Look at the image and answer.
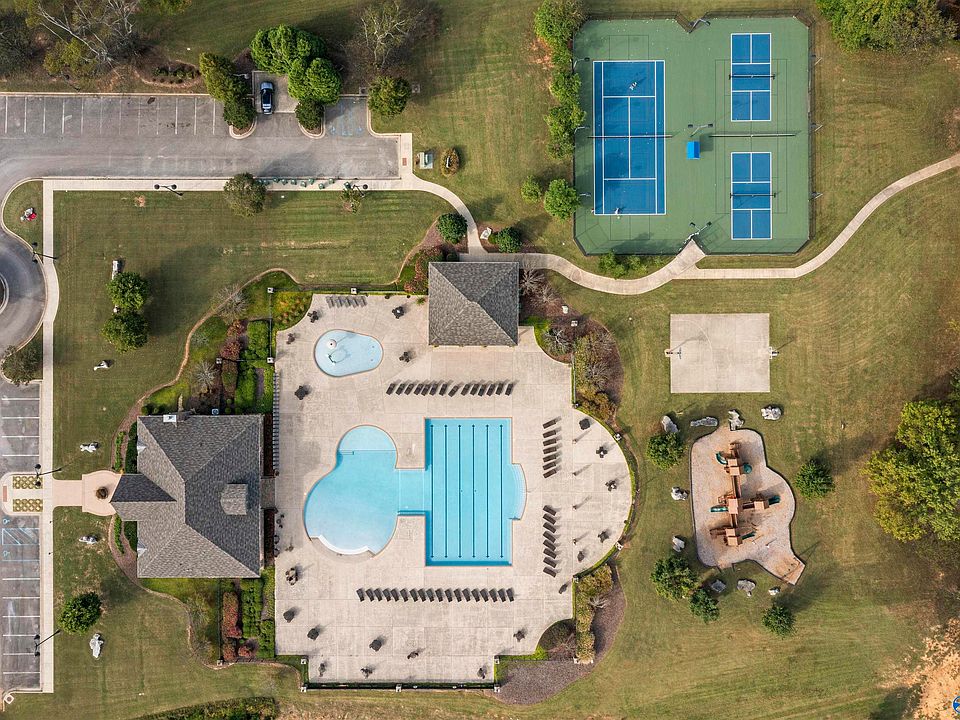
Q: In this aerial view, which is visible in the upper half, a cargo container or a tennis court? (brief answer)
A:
tennis court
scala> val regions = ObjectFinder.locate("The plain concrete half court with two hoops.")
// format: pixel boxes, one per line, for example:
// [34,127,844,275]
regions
[670,314,771,392]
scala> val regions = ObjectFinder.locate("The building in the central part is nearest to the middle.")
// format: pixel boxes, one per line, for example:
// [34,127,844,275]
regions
[428,262,520,348]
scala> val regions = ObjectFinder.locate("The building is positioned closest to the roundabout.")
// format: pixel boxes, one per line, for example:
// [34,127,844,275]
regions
[110,413,264,578]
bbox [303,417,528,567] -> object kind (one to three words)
swimming pool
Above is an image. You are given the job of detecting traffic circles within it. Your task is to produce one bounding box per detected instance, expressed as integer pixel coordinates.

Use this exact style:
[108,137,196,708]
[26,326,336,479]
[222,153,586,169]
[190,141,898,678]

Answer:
[0,233,44,351]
